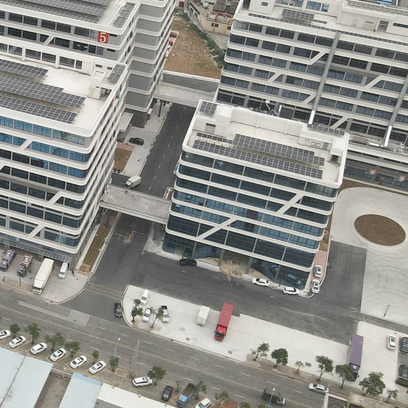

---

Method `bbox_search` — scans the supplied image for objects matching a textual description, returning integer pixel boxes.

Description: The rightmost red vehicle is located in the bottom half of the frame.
[212,293,237,345]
